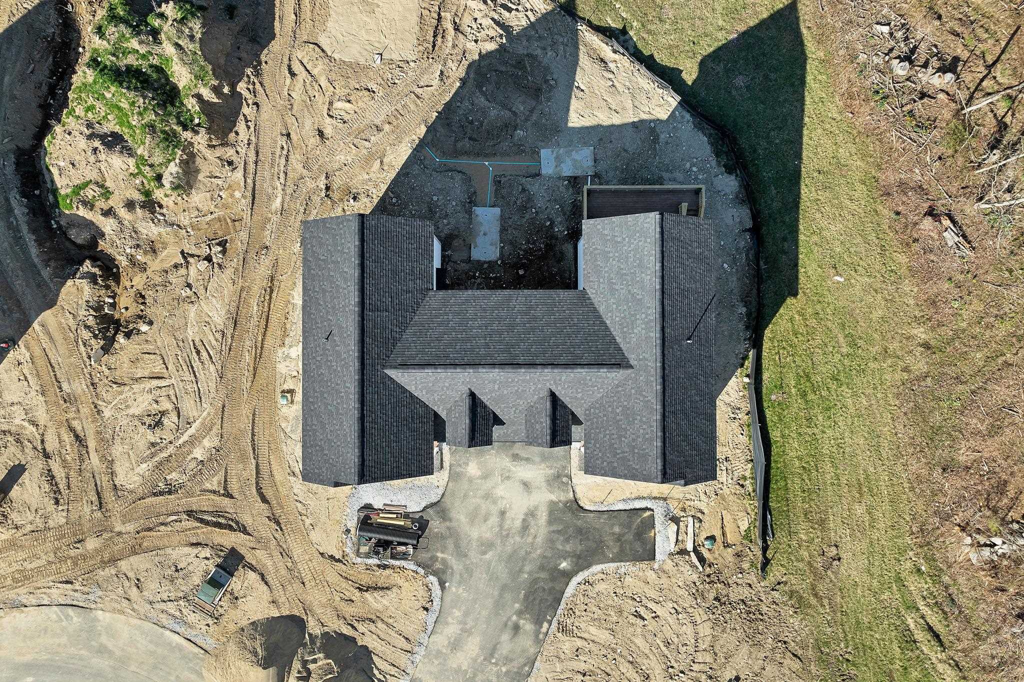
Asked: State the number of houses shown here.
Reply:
1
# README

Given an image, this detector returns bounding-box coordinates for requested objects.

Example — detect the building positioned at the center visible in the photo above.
[302,211,715,487]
